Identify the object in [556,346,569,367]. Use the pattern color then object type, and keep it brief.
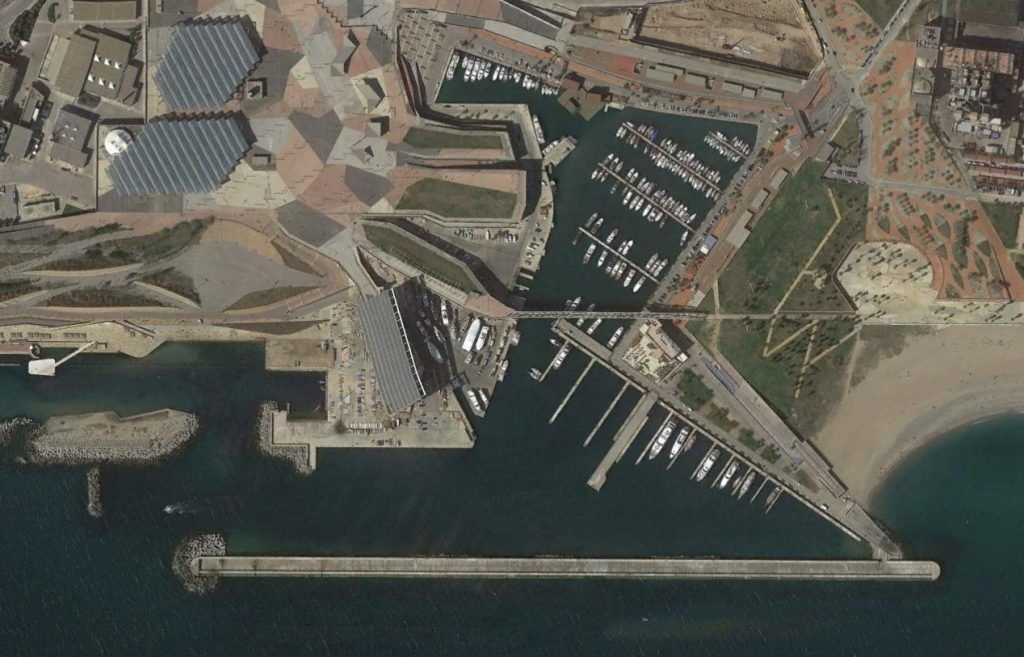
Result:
white boat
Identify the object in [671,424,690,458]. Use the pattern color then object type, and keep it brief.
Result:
white boat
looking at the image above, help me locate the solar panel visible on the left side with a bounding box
[359,289,420,413]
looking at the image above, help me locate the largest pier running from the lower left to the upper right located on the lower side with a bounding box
[587,395,658,491]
